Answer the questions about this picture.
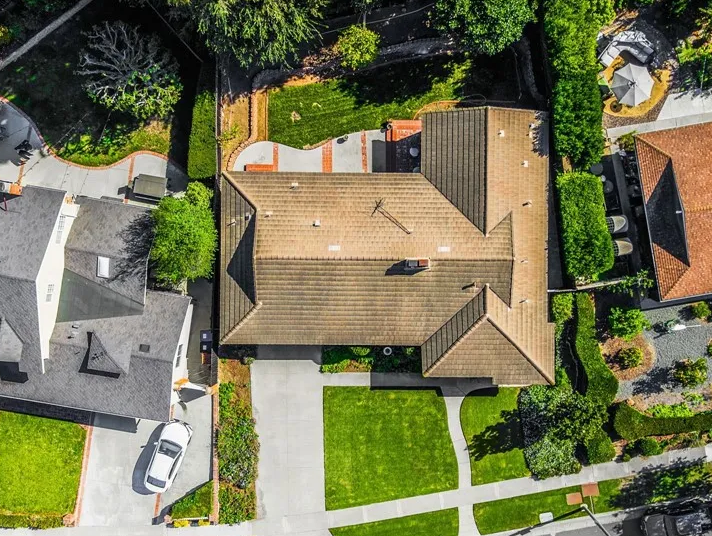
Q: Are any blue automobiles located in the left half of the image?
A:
No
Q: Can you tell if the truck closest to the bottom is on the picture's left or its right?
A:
right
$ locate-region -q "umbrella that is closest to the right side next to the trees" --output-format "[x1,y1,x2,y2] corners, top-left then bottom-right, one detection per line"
[609,66,650,108]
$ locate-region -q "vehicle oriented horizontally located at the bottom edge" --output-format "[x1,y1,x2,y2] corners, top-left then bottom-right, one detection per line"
[639,496,712,536]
